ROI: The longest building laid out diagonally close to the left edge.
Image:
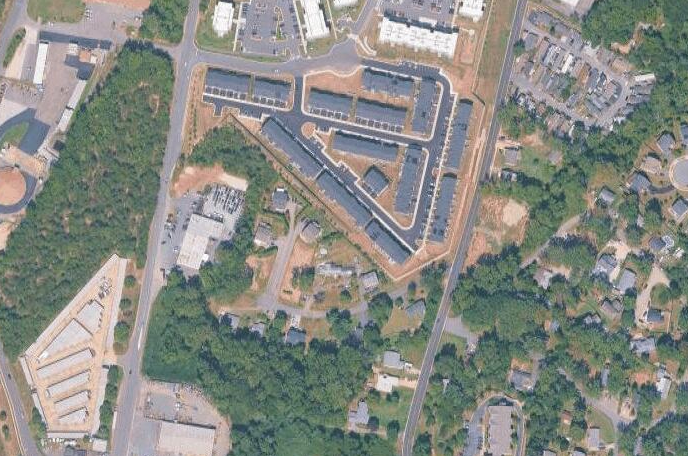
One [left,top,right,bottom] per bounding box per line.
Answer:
[25,255,118,357]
